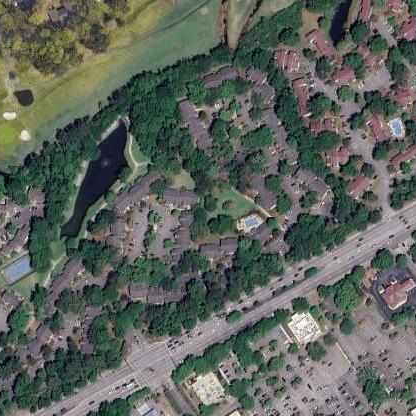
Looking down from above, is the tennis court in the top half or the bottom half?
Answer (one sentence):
Seen from above, the tennis court lies in the bottom half of the view.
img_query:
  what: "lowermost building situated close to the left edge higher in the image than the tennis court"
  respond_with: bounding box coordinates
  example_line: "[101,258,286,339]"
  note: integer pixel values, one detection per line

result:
[0,223,30,255]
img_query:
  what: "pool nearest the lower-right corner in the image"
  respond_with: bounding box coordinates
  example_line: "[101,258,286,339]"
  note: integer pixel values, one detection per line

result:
[237,216,264,232]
